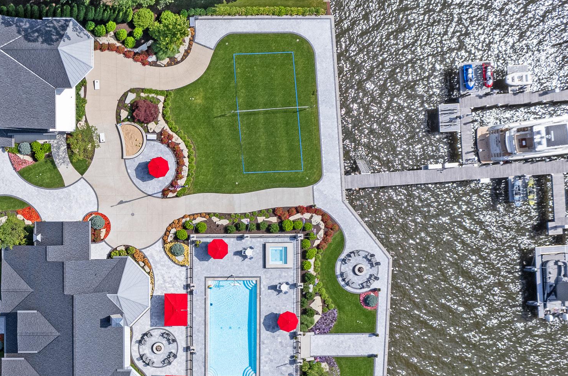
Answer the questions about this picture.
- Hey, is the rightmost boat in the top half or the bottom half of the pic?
bottom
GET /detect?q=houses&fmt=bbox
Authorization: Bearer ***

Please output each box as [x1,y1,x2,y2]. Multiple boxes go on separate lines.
[0,16,94,149]
[0,221,150,376]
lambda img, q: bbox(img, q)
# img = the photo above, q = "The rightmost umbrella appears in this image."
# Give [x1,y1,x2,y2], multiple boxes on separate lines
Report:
[276,310,298,333]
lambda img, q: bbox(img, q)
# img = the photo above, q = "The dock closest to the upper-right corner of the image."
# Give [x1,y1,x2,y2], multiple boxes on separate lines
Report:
[502,65,530,94]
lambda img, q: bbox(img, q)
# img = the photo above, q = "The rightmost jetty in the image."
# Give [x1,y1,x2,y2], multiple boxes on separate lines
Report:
[545,173,568,235]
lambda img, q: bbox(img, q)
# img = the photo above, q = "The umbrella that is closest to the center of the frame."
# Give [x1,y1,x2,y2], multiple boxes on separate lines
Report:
[207,239,227,258]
